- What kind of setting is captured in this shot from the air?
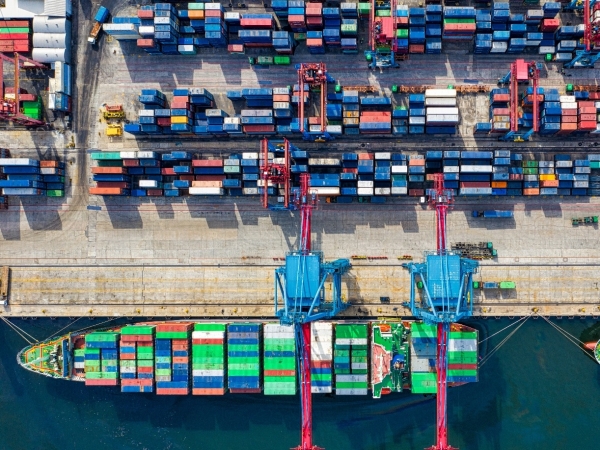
port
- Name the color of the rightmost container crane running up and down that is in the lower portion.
blue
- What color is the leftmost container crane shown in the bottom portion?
blue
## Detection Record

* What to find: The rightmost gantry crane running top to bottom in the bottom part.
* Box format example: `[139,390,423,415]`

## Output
[401,173,475,450]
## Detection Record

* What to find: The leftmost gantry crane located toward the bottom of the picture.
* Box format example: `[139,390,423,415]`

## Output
[274,173,352,450]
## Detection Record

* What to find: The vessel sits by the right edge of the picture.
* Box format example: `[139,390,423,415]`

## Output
[578,338,600,362]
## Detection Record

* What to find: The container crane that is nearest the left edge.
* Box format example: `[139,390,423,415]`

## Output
[0,53,59,128]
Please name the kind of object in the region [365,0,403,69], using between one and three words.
container crane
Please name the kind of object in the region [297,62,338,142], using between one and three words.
container crane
